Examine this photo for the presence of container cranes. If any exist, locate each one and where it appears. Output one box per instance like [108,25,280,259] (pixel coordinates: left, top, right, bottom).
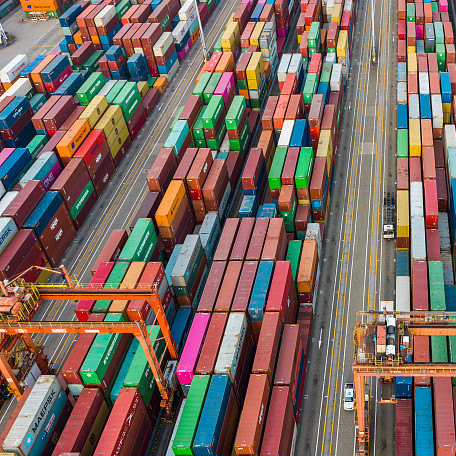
[0,267,183,428]
[349,313,456,456]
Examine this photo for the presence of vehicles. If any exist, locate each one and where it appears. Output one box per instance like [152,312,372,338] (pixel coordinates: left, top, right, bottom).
[381,188,395,236]
[340,379,354,408]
